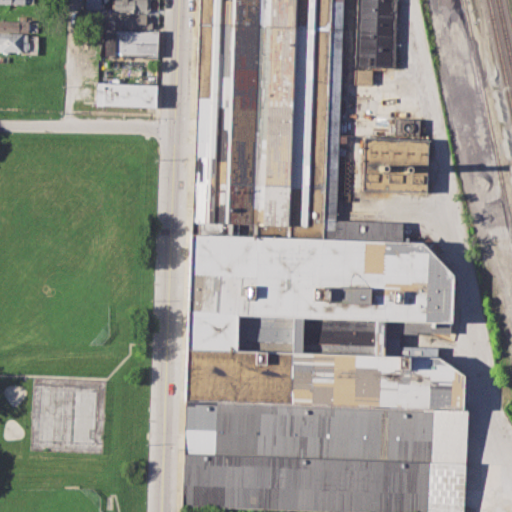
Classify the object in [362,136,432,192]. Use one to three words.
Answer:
building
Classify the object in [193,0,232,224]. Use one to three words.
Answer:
shed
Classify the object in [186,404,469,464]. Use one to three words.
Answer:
shed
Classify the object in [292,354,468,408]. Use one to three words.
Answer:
building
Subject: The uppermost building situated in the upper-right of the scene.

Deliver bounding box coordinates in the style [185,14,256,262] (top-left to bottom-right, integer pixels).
[355,0,397,69]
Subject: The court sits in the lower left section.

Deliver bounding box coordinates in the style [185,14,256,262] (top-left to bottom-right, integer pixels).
[31,380,106,453]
